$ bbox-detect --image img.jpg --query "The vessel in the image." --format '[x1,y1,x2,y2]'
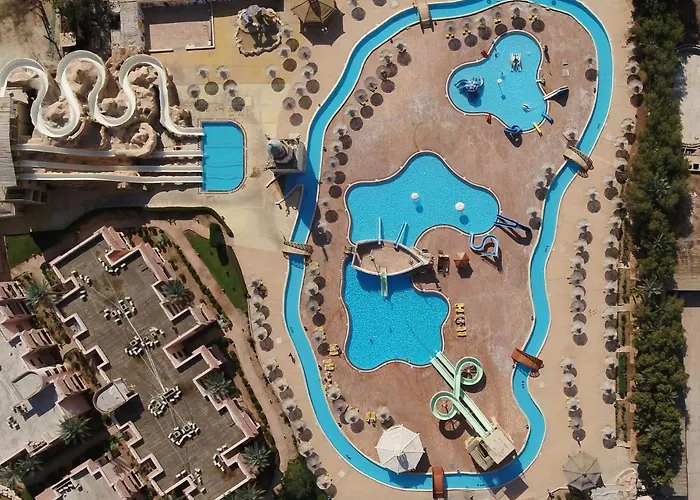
[345,240,434,276]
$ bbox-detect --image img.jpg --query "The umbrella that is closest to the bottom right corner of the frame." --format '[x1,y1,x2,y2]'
[601,425,615,438]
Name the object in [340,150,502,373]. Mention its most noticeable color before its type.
blue swimming pool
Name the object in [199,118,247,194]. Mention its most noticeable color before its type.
blue swimming pool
